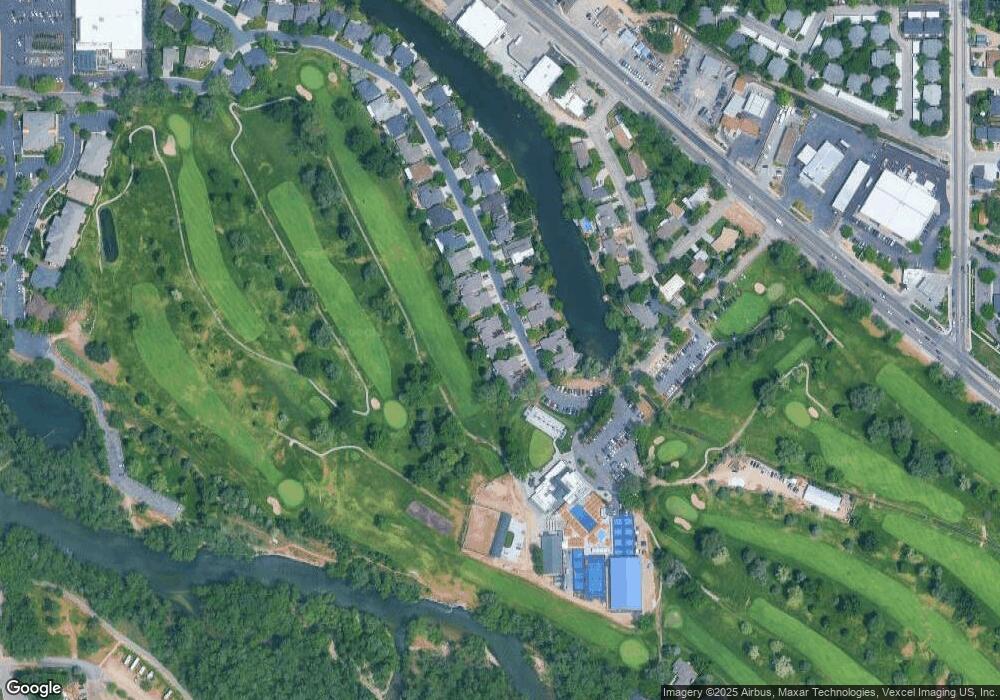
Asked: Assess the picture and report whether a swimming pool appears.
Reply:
Yes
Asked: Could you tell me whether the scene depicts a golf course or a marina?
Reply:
golf course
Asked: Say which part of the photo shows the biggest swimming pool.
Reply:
bottom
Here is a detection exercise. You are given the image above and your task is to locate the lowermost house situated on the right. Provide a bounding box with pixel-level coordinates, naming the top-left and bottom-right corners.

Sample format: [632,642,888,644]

[674,655,697,681]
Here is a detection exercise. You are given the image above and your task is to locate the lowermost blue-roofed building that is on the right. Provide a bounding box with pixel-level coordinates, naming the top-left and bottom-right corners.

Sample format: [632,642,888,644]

[611,557,642,610]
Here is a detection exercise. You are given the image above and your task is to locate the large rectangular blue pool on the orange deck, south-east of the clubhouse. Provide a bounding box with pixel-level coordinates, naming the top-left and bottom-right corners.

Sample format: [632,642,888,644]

[569,504,598,532]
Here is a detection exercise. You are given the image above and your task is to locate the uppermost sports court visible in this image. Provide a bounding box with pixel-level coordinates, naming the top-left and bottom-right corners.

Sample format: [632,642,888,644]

[612,514,635,556]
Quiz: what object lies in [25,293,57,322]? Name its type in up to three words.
building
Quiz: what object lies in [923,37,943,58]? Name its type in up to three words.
building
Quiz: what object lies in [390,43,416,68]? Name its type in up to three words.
house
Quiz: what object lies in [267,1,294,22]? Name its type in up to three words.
house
